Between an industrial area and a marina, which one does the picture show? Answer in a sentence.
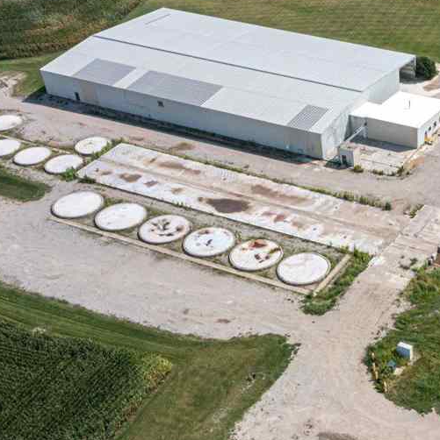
It's an industrial area.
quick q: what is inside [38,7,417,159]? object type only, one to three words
shed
